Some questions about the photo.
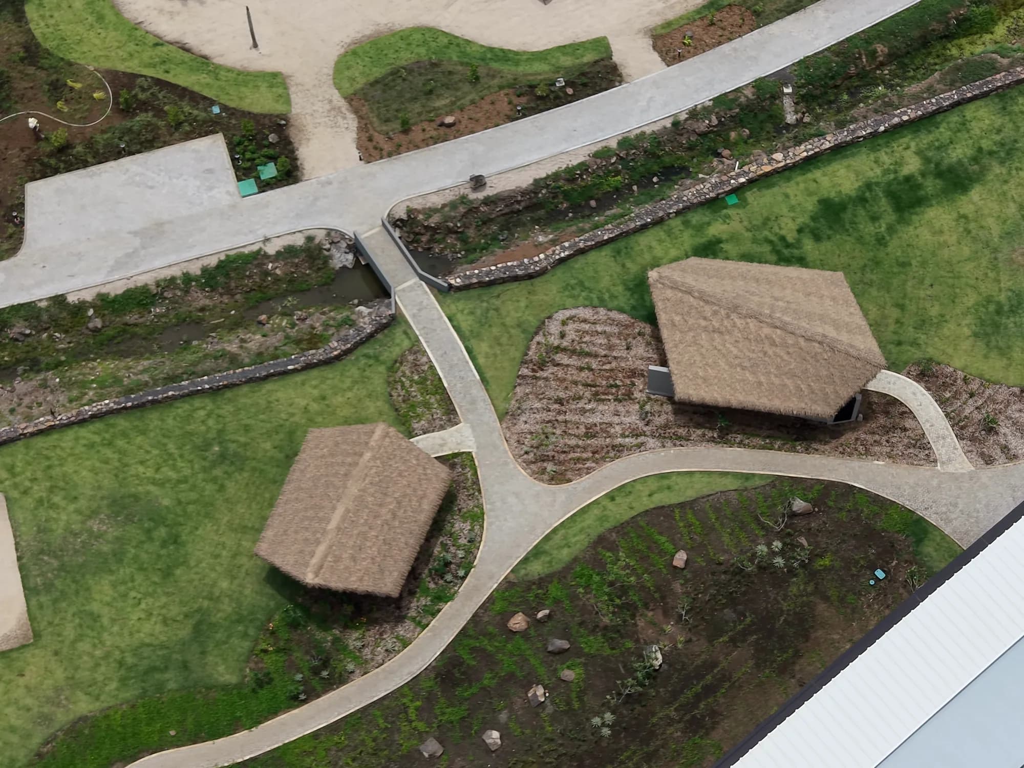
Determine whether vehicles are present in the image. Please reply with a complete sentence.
No, the picture doesn't show any vehicle.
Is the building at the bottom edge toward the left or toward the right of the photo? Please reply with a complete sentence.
The building at the bottom edge appears in the right half of the scene.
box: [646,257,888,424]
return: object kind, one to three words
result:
shed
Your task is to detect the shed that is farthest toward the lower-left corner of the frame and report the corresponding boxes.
[256,420,452,597]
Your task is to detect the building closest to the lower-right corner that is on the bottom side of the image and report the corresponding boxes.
[713,500,1024,768]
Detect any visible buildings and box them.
[713,500,1024,768]
[256,420,452,597]
[646,257,888,424]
